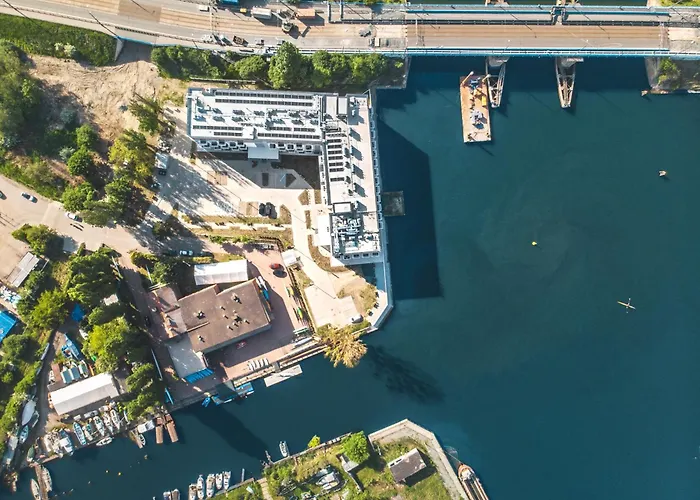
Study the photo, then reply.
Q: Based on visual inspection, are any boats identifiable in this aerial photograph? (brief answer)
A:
Yes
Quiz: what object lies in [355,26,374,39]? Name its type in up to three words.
vehicle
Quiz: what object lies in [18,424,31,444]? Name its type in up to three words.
boat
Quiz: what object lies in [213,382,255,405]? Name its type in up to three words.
pier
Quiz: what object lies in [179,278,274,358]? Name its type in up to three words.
building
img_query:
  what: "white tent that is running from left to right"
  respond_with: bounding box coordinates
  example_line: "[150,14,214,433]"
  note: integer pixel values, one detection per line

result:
[193,259,250,286]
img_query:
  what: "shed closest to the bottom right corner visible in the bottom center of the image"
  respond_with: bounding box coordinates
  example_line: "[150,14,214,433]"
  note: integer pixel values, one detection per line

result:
[388,447,427,483]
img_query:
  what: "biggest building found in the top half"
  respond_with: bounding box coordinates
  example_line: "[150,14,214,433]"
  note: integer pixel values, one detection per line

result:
[188,88,386,263]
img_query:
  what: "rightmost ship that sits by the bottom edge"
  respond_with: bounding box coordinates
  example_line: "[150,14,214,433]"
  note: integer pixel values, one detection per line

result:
[453,449,492,500]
